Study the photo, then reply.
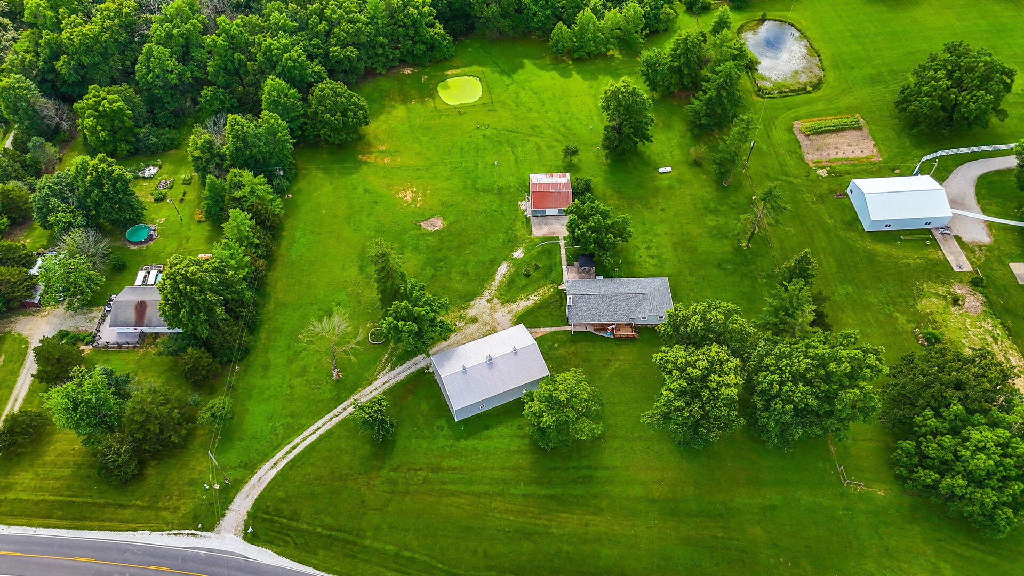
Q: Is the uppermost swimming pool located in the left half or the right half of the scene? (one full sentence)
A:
The uppermost swimming pool appears in the left half of the scene.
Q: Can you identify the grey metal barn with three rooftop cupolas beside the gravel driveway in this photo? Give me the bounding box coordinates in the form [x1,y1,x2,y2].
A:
[430,324,550,420]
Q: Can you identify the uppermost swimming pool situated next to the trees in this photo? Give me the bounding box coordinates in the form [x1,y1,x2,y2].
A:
[123,223,152,246]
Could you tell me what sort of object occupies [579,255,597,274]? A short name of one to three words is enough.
gazebo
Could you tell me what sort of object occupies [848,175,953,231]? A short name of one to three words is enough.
barn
